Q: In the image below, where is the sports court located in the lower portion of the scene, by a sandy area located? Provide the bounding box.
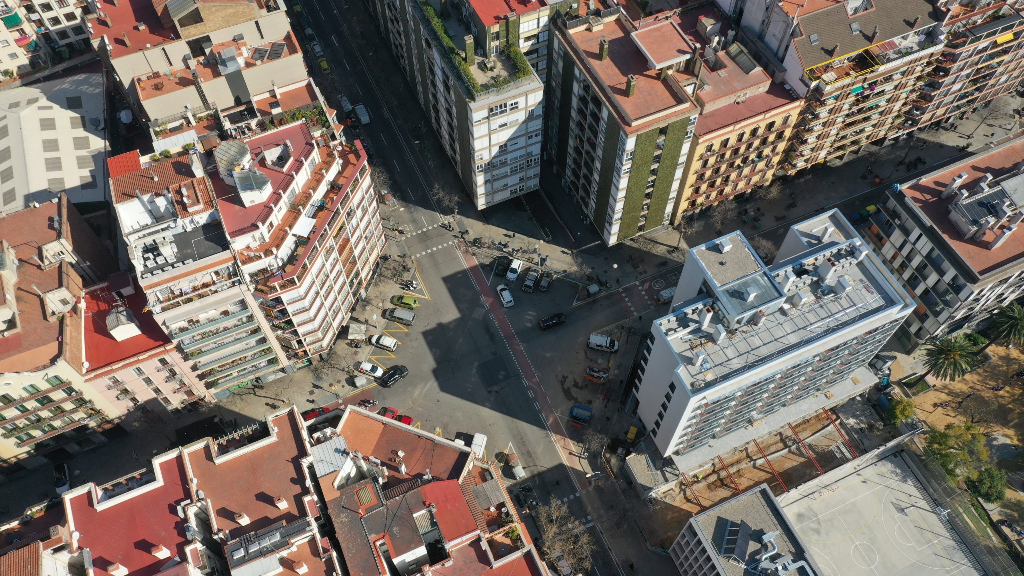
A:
[779,450,978,576]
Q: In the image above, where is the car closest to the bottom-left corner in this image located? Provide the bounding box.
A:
[54,464,71,494]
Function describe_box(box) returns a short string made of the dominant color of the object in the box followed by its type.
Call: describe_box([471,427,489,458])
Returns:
white vehicle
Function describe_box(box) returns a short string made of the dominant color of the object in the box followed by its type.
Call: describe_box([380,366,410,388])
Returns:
black car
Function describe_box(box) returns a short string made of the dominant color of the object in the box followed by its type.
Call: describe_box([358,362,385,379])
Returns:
white car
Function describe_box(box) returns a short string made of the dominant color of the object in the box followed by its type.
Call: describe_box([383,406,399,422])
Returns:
red car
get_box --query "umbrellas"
[118,110,137,126]
[349,325,366,340]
